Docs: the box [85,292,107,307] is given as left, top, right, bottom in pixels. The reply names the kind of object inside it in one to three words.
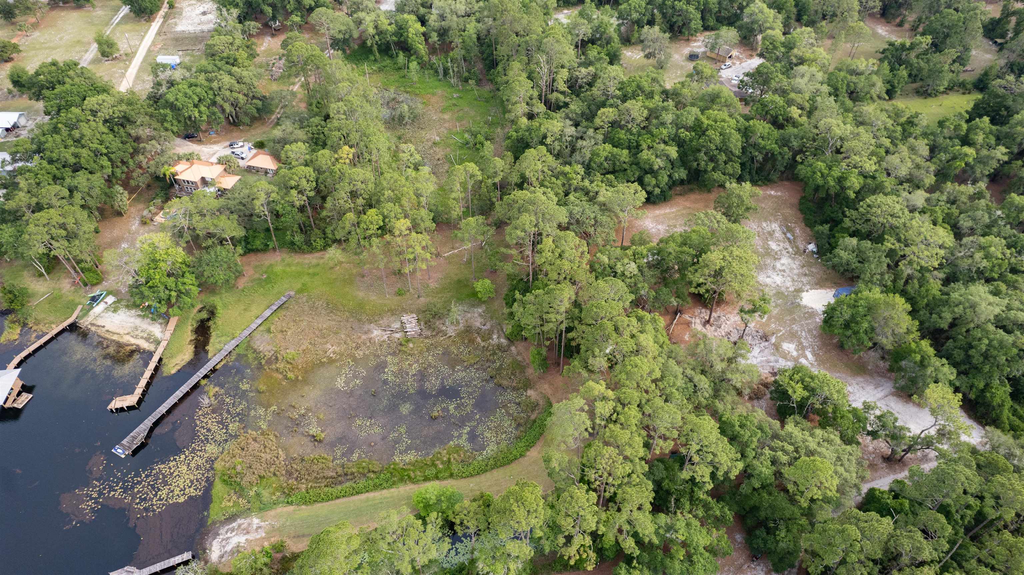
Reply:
boat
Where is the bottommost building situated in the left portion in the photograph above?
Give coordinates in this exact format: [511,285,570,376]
[0,368,34,419]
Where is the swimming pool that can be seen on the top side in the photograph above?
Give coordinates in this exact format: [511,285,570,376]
[148,211,175,227]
